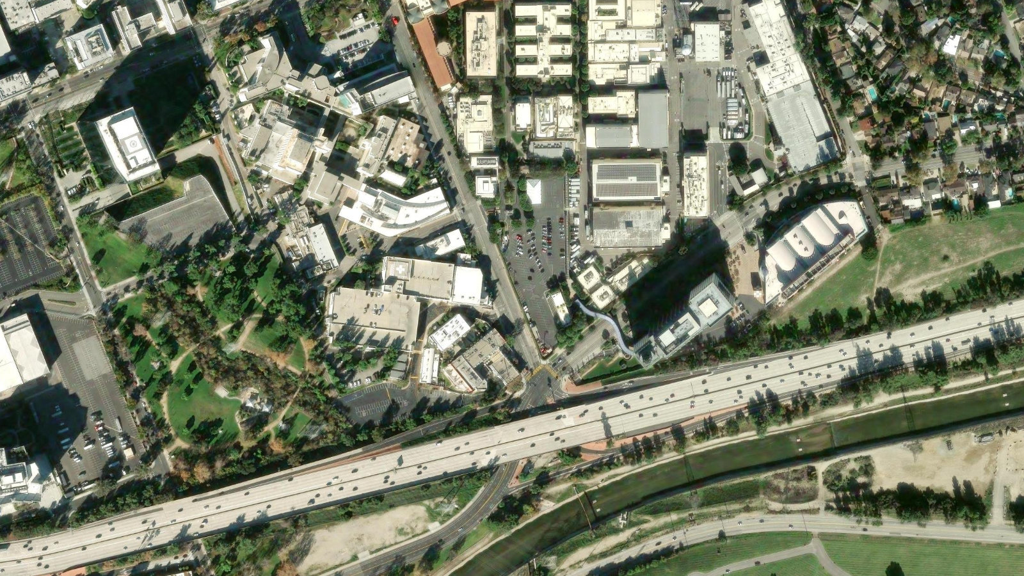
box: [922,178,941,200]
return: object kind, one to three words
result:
house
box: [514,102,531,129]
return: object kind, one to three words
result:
building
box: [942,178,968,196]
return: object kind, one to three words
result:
house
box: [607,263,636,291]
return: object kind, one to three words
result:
building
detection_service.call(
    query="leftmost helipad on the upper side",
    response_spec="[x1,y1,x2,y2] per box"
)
[124,136,143,153]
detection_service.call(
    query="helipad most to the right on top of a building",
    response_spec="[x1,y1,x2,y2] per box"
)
[392,262,408,276]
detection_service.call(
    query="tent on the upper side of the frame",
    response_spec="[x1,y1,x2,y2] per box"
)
[526,180,541,204]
